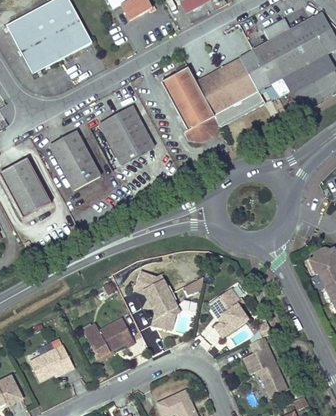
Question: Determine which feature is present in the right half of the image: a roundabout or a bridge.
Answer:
roundabout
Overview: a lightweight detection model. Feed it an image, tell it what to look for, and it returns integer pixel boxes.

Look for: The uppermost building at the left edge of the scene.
[5,0,91,74]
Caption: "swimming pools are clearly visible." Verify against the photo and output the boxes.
[230,330,250,346]
[246,392,258,410]
[175,316,192,335]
